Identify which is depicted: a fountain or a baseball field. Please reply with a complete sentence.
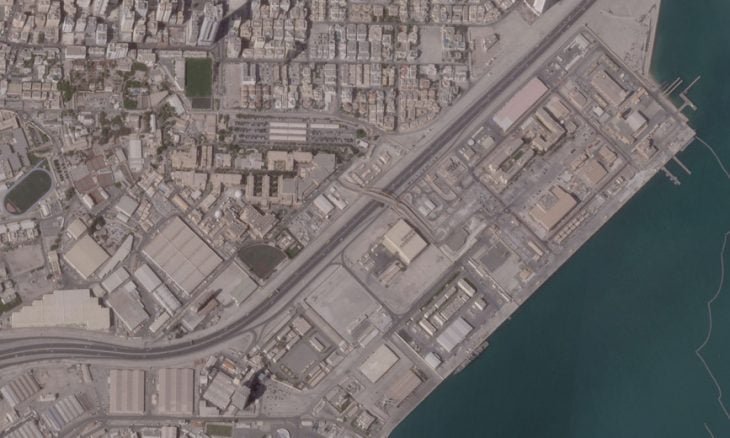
It is a baseball field that can be seen here.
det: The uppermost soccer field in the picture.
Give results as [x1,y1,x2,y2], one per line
[185,57,212,97]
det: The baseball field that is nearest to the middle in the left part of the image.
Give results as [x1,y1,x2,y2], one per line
[237,241,289,280]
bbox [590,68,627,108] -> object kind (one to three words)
building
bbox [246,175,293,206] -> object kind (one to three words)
building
